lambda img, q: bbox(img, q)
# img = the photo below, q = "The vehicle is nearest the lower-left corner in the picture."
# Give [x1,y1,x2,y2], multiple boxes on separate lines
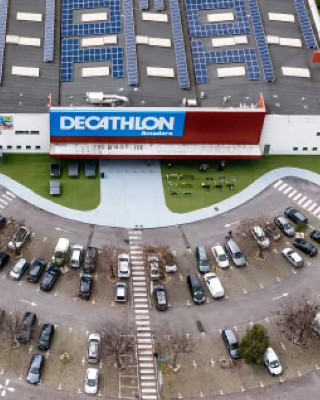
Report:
[26,353,46,387]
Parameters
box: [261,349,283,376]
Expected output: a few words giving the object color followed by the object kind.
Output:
white car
